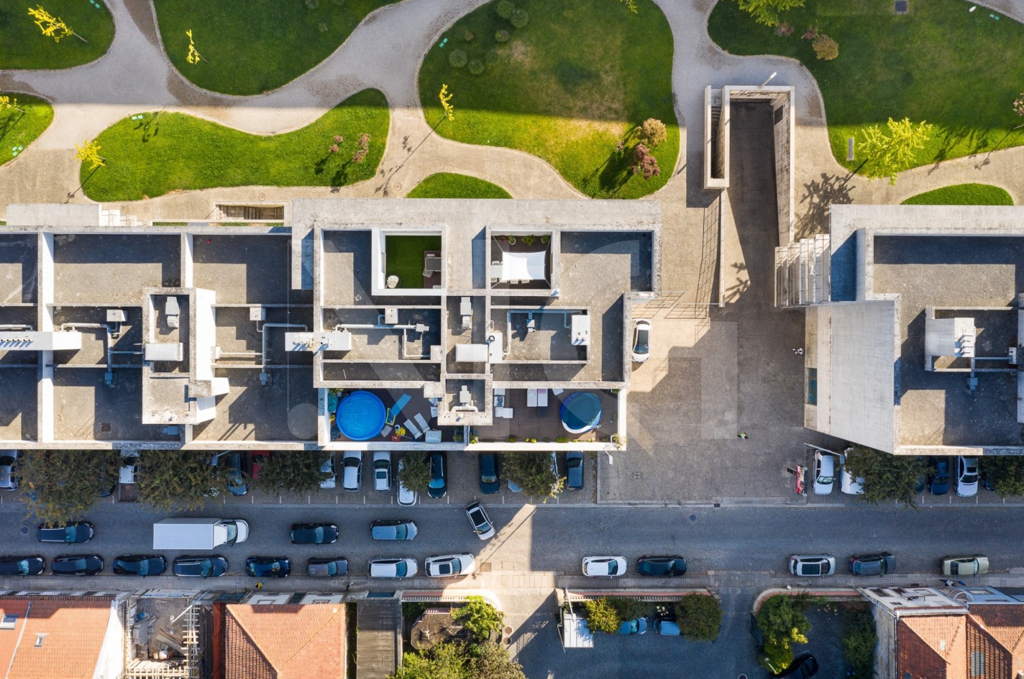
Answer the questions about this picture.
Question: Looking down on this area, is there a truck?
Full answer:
Yes, a truck can be made out from above.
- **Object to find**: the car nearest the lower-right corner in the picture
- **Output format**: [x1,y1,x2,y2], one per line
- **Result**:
[940,554,990,579]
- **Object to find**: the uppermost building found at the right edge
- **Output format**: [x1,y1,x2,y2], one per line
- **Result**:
[774,205,1024,455]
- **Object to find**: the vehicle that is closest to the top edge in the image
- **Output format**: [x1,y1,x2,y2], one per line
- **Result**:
[632,318,654,363]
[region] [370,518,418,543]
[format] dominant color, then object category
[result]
blue car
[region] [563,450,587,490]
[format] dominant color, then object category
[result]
blue car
